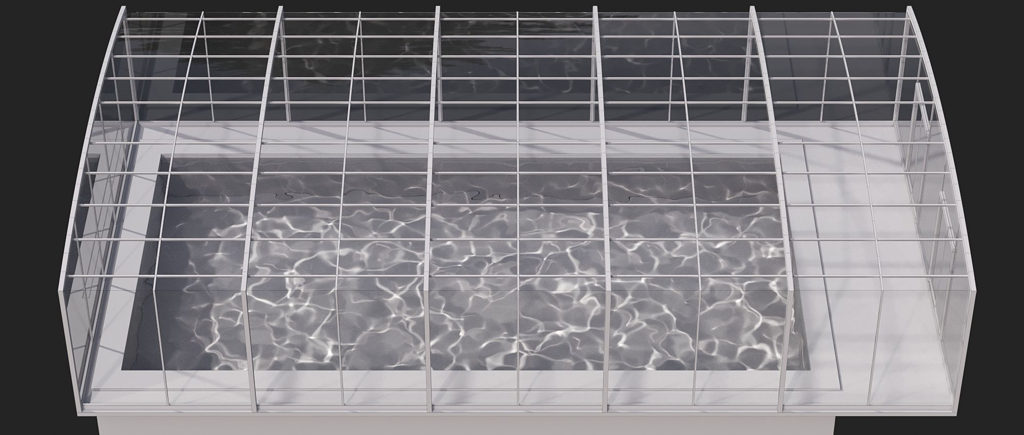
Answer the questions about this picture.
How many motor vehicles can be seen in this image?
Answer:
0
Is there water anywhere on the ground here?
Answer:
Yes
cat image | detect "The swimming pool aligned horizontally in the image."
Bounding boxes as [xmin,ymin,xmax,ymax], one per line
[92,139,840,435]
